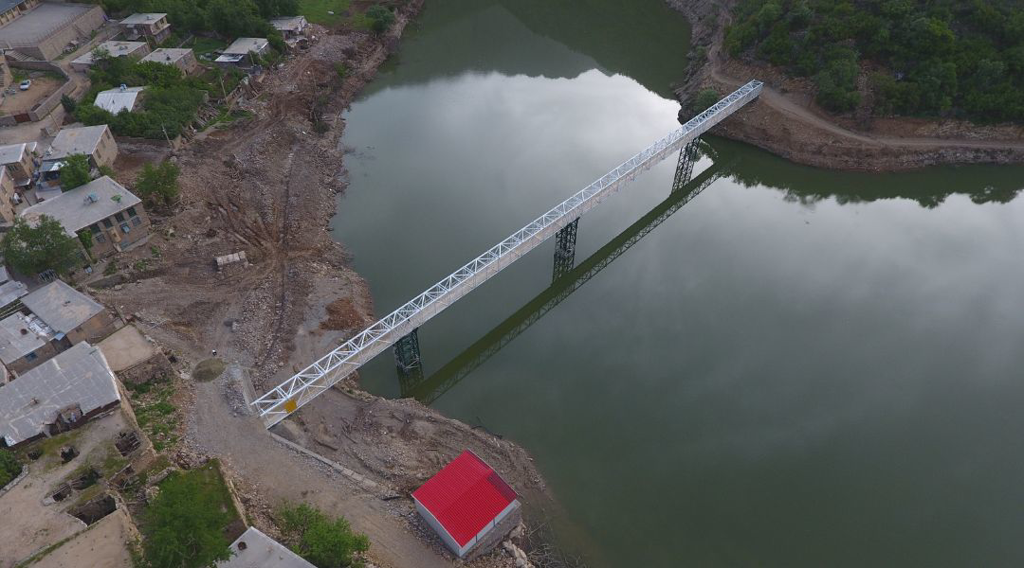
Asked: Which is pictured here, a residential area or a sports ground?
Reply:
residential area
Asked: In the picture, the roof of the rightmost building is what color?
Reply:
red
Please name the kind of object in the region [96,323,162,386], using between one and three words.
shed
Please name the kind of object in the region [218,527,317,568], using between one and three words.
house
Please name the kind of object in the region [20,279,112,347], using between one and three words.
house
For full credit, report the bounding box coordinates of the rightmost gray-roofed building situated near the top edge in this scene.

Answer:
[268,15,306,44]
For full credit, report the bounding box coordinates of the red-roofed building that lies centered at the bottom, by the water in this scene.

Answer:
[411,449,526,565]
